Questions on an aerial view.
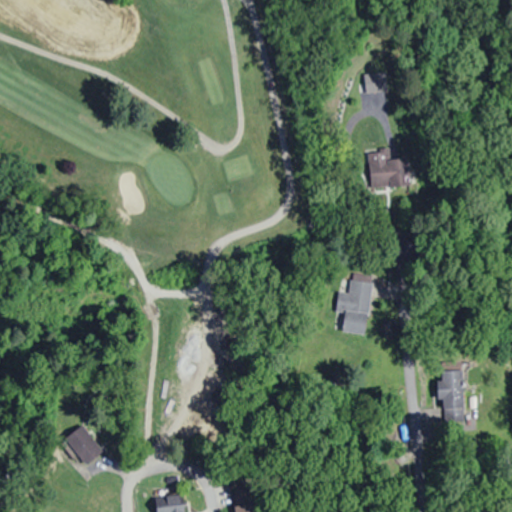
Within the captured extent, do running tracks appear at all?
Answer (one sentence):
No, I can't see a single running track in this photo.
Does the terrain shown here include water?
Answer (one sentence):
No, the scene doesn't show any water.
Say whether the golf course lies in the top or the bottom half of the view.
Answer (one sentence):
The golf course is in the top half of the image.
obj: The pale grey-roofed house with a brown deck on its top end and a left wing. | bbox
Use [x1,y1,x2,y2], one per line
[338,272,374,336]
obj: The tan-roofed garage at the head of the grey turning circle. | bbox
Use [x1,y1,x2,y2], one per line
[364,73,384,94]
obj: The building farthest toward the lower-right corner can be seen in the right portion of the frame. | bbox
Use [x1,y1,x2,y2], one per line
[438,362,469,422]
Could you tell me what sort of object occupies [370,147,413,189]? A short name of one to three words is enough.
house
